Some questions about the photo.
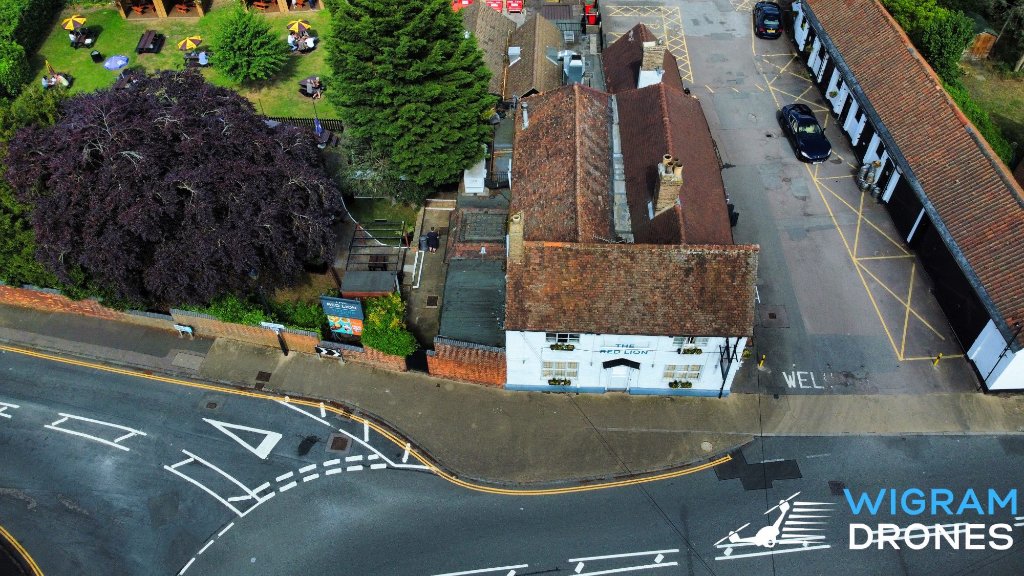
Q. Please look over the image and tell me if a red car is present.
No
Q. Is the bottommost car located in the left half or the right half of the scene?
right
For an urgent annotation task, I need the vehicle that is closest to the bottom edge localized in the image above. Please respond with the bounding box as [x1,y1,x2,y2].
[786,106,836,161]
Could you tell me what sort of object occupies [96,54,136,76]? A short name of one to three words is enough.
umbrella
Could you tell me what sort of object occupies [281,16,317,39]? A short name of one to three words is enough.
umbrella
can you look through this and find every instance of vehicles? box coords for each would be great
[756,3,785,37]
[786,106,836,161]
